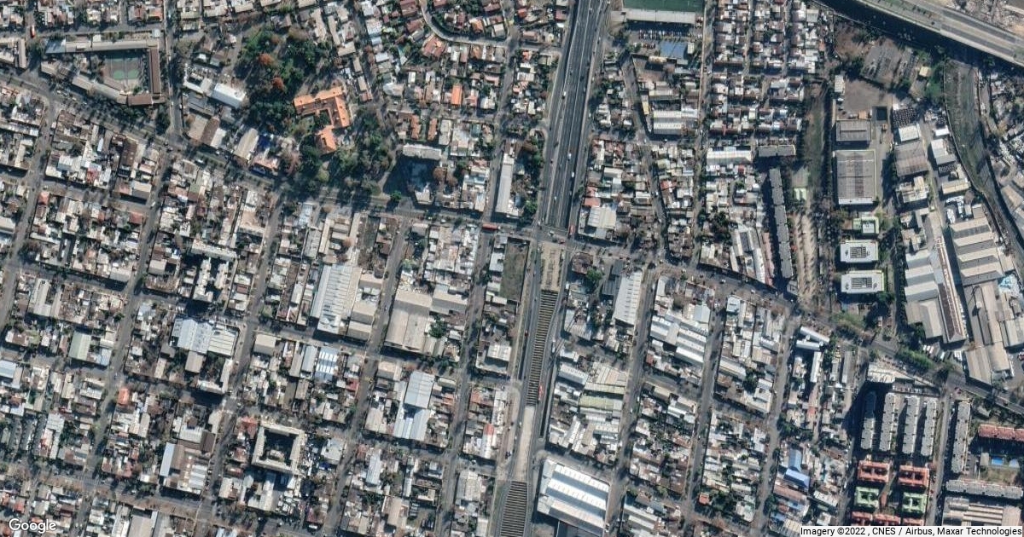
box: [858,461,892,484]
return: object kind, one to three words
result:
building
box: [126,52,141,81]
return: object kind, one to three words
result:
sports court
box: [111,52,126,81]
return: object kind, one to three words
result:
sports court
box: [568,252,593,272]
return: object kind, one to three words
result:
house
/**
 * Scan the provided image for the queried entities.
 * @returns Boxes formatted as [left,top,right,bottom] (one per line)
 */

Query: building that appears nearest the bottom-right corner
[1002,508,1022,536]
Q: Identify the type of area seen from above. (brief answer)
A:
residential area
